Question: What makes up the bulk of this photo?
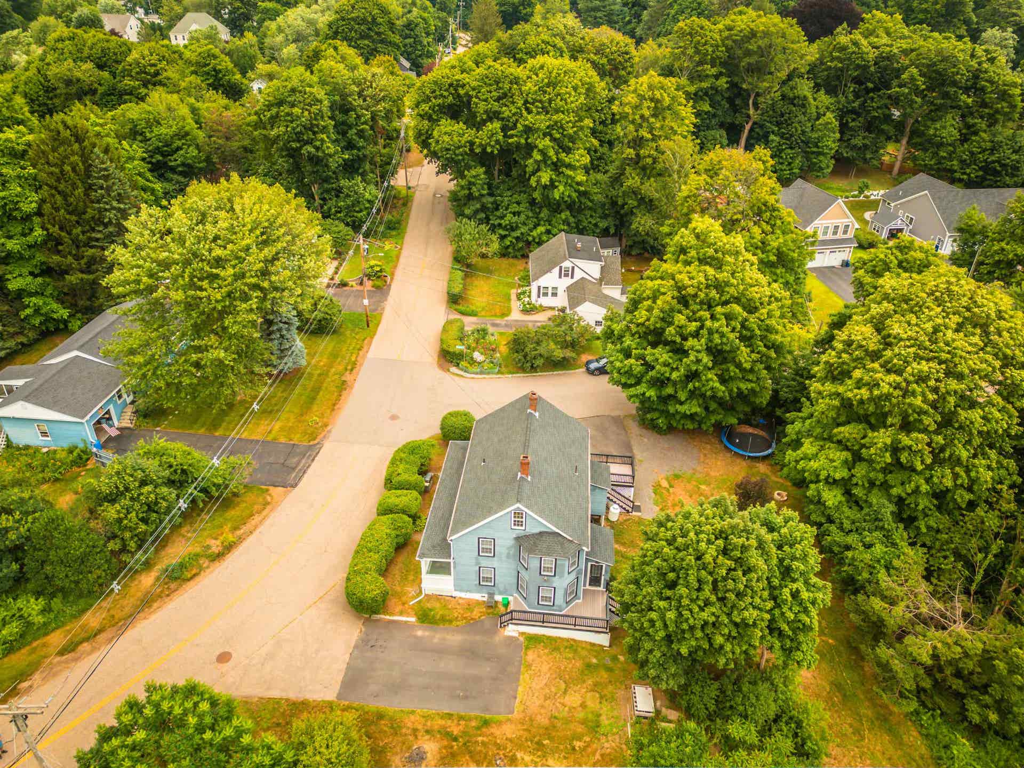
trees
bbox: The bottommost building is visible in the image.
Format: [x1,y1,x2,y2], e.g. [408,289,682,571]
[408,389,645,643]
